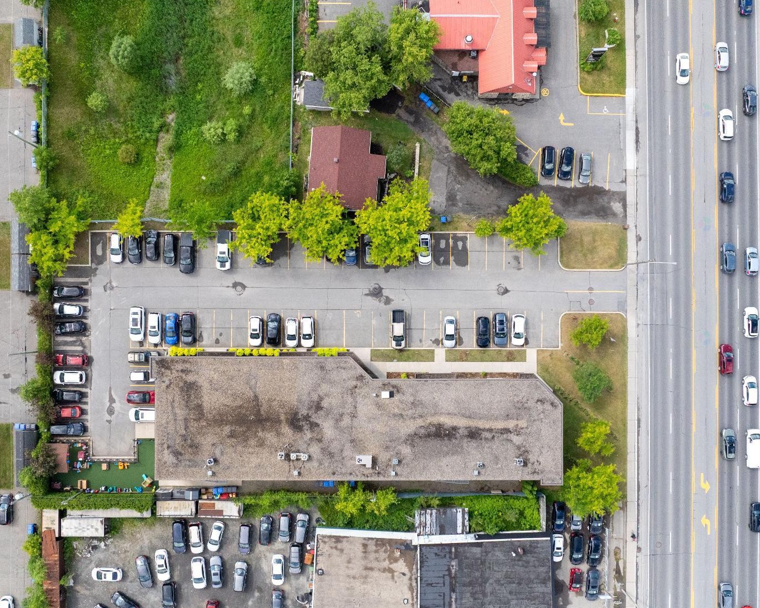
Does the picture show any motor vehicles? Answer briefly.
Yes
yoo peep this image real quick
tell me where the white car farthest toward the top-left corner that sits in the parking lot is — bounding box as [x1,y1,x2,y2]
[108,232,125,263]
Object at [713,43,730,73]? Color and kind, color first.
white car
